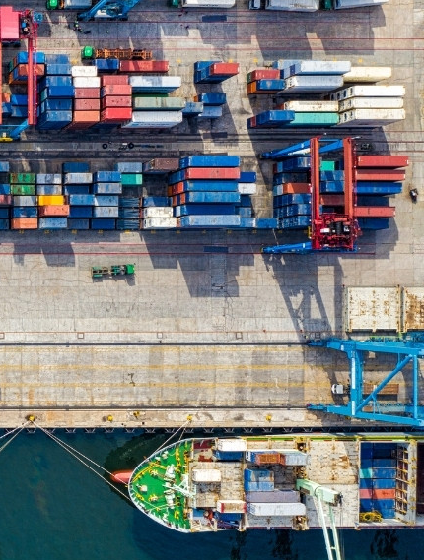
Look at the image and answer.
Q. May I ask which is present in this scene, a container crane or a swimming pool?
container crane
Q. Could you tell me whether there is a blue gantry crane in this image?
Yes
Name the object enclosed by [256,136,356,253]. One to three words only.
container crane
